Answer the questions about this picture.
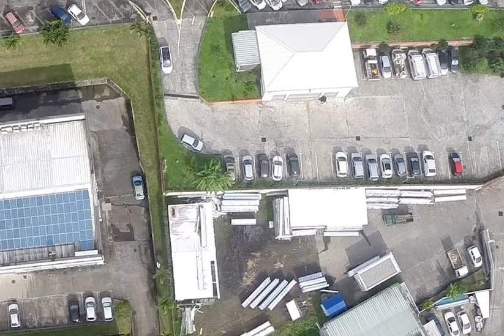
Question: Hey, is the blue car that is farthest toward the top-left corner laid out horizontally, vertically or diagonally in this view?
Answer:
diagonally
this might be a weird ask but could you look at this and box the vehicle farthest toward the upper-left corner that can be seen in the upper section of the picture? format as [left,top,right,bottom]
[5,11,23,34]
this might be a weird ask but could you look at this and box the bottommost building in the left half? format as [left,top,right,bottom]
[164,202,219,300]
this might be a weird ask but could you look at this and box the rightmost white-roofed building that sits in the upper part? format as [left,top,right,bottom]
[254,21,358,102]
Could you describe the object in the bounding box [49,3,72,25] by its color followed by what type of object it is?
blue car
